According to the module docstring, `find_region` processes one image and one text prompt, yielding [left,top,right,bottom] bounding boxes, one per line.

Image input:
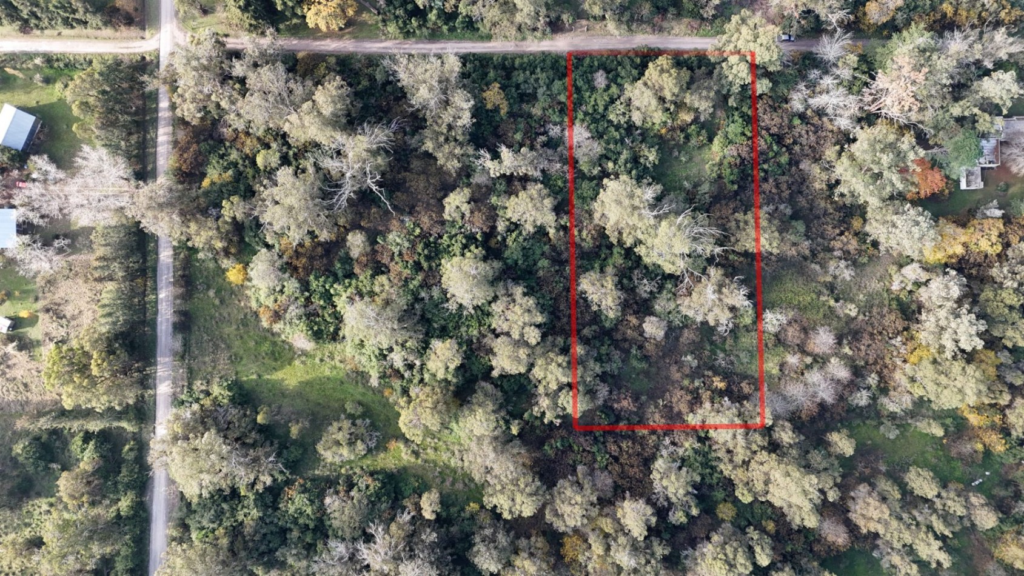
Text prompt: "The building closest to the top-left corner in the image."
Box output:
[0,104,45,154]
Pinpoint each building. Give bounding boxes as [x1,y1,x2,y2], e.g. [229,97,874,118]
[0,104,45,154]
[955,116,1024,190]
[0,316,18,335]
[0,208,22,248]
